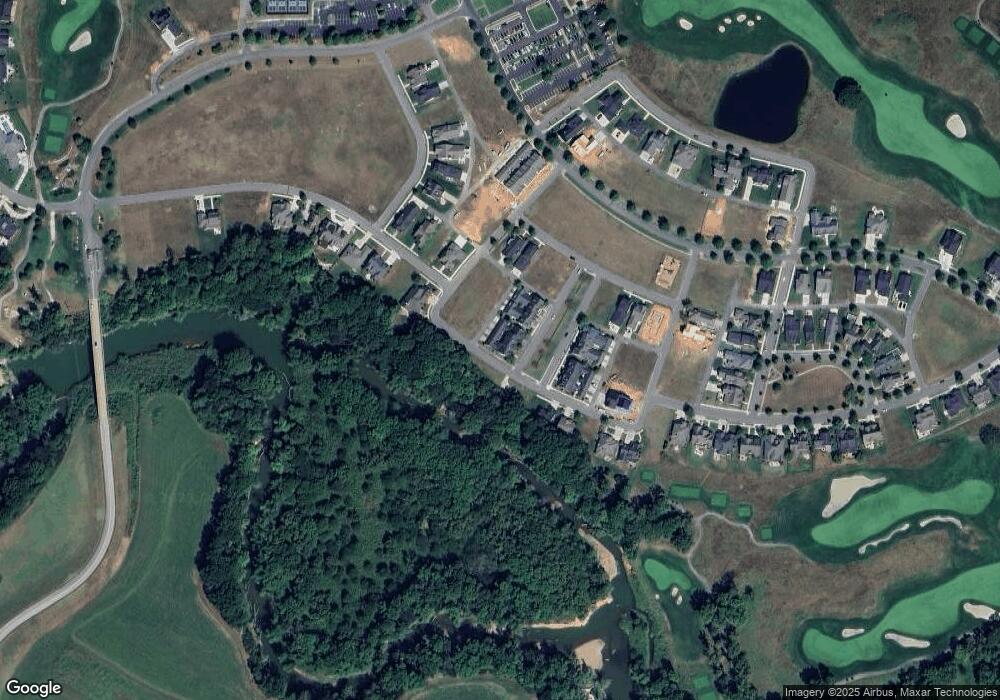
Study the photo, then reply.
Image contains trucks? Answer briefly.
No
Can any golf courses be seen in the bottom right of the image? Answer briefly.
Yes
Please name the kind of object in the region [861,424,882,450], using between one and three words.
house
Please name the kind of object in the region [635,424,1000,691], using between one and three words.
golf course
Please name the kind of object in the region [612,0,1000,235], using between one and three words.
golf course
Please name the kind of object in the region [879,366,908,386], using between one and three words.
house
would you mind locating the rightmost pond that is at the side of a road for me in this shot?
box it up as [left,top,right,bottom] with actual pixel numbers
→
[714,45,811,143]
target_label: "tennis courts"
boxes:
[267,0,287,15]
[287,0,308,15]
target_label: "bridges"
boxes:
[89,299,108,420]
